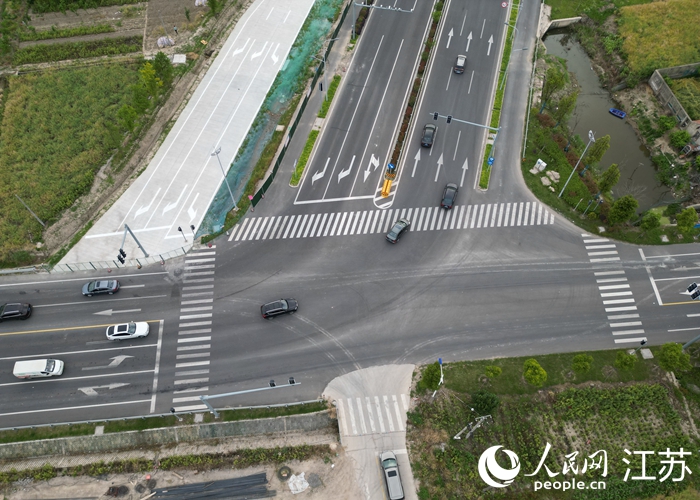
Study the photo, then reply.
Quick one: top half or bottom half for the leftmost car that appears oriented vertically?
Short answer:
bottom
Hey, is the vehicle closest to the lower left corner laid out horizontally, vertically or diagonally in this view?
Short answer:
horizontally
